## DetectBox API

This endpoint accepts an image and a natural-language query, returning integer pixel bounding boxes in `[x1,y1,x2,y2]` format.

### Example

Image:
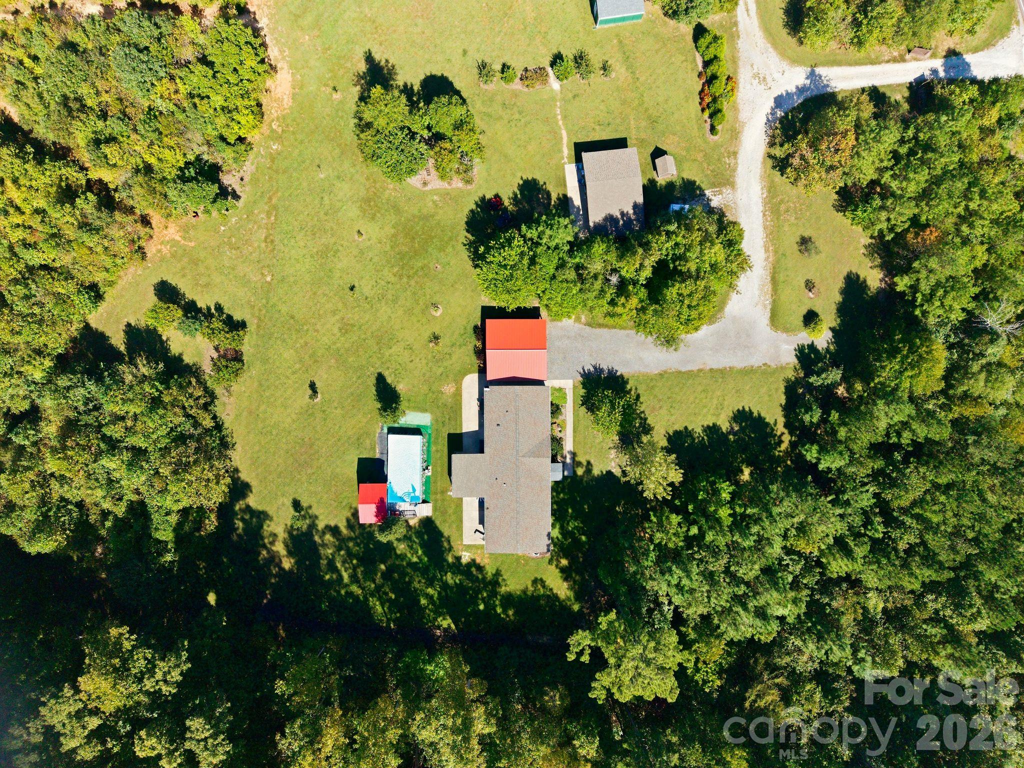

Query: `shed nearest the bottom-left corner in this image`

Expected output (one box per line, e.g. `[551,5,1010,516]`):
[358,481,389,524]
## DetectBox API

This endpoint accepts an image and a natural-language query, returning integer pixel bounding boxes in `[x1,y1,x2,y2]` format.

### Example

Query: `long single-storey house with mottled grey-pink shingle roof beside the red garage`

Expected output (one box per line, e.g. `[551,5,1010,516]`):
[451,386,562,557]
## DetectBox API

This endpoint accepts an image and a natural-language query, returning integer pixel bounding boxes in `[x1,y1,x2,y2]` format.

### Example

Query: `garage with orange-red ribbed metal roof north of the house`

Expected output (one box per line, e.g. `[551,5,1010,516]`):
[485,319,547,381]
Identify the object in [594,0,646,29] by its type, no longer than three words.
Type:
shed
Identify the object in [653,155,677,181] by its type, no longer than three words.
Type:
shed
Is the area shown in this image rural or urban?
rural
